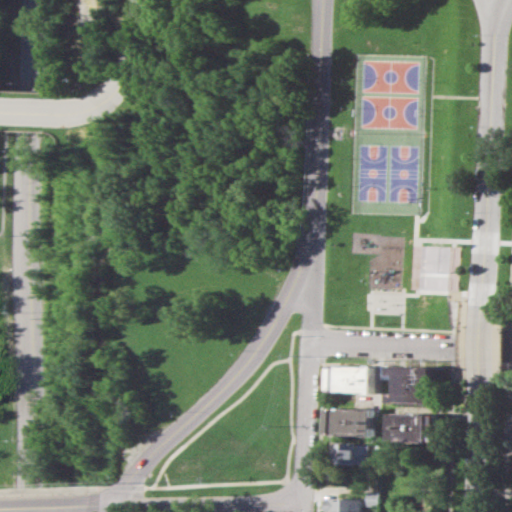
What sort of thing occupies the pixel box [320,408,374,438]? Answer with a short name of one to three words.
building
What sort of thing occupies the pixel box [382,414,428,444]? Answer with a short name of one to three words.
building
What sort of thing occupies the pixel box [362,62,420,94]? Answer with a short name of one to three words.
sports court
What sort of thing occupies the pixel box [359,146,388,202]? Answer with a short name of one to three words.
basketball court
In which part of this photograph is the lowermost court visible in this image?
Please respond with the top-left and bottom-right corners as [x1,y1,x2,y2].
[412,246,462,292]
